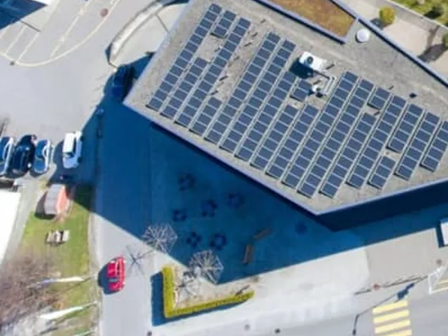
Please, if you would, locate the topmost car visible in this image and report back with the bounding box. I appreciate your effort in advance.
[113,63,136,100]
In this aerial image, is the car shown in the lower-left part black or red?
red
